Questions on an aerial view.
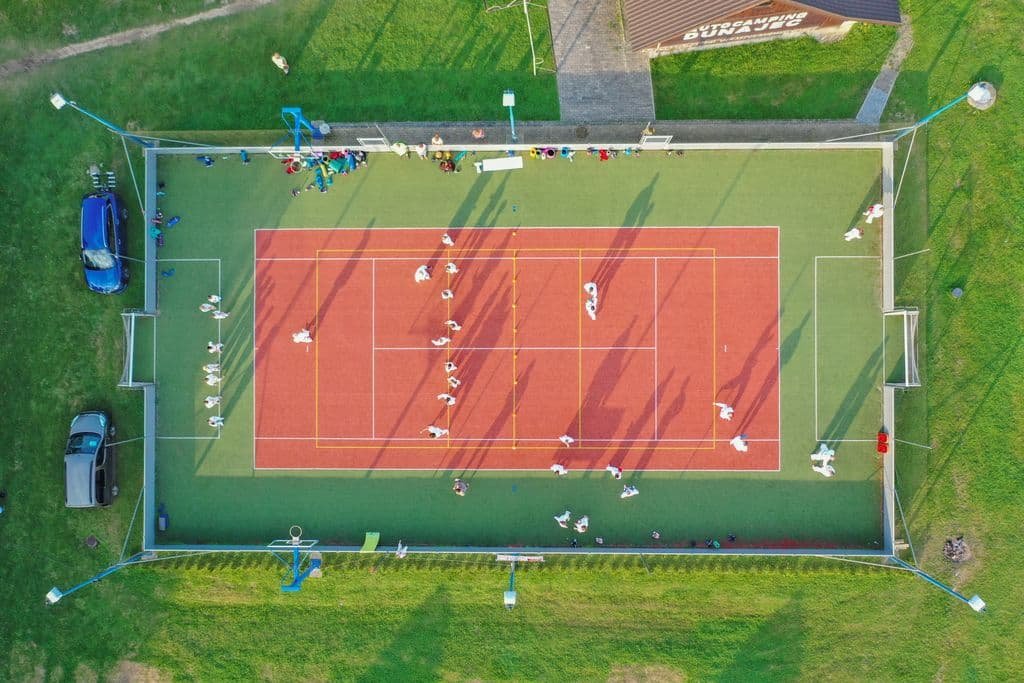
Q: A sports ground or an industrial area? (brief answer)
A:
sports ground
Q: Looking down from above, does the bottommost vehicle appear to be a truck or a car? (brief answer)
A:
car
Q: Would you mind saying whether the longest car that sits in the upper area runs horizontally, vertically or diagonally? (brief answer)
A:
vertically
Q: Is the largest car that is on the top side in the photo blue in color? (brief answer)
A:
Yes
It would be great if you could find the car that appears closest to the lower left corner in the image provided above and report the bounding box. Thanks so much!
[65,412,117,507]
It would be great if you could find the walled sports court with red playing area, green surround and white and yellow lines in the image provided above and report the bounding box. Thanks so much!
[128,148,913,550]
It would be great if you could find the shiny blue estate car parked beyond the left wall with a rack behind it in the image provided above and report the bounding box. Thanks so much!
[79,192,130,293]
